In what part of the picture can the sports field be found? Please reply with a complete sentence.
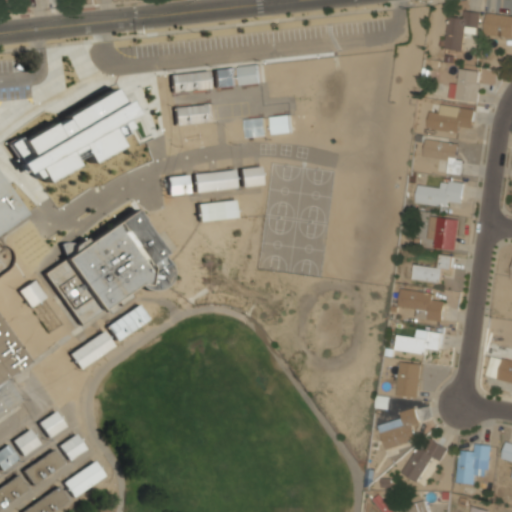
The sports field is in the bottom part of the image.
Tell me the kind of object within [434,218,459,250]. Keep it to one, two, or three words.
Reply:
house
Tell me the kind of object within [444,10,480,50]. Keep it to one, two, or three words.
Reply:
house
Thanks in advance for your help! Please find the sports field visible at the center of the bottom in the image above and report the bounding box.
[97,314,354,512]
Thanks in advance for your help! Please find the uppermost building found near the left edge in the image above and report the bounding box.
[10,89,144,182]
